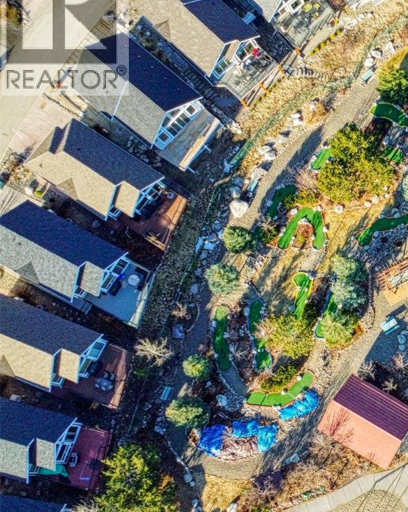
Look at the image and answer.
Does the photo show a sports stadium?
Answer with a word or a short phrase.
No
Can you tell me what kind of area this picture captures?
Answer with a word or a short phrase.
residential area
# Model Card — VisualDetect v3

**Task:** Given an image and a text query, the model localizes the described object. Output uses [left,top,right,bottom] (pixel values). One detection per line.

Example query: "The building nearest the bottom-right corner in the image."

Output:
[319,375,408,469]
